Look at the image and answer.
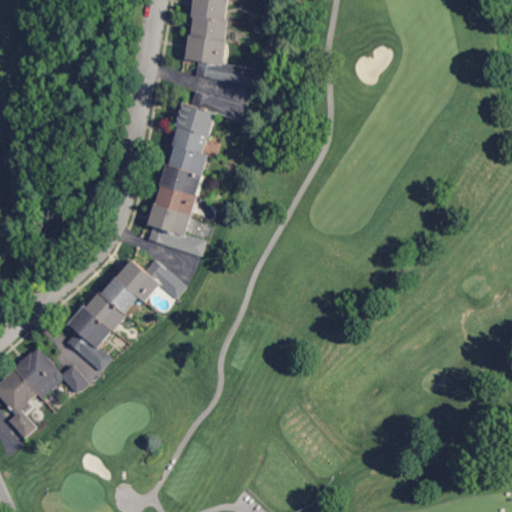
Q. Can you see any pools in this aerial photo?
Yes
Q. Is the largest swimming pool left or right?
left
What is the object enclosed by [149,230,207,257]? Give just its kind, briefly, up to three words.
building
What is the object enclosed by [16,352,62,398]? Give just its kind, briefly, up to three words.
house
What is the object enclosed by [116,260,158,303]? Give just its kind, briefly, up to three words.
house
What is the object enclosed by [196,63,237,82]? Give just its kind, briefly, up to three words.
building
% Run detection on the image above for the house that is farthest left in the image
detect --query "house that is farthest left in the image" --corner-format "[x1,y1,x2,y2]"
[0,372,38,437]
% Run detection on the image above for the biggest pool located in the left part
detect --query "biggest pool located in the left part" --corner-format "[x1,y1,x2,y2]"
[150,286,175,314]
